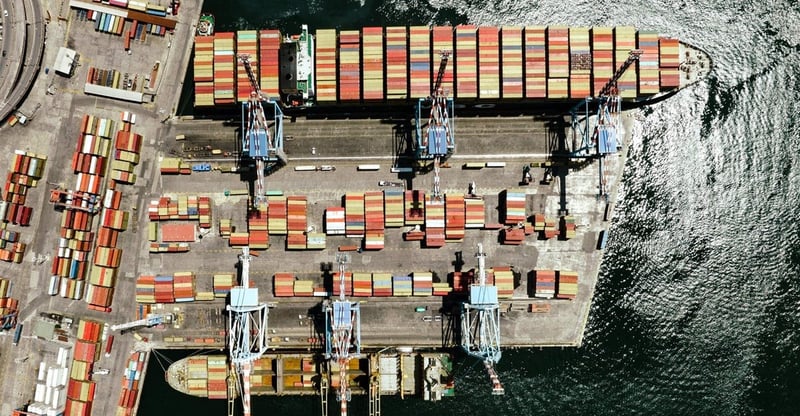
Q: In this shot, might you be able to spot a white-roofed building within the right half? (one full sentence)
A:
No, no white-roofed building appears within the right half.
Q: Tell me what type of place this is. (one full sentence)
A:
The area seen from above is a port.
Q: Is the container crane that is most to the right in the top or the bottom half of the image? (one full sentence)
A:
Seen from above, the container crane that is most to the right lies in the top half of the view.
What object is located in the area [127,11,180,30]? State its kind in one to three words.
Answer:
building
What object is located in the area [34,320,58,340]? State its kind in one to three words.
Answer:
shed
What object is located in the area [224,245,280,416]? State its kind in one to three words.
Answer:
container crane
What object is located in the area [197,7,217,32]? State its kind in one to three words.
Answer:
boat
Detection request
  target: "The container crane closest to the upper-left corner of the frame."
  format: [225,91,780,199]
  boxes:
[48,192,108,216]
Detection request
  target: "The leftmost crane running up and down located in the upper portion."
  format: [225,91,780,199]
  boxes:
[231,47,292,201]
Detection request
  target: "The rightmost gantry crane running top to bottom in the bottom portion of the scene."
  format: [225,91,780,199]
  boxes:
[455,242,504,403]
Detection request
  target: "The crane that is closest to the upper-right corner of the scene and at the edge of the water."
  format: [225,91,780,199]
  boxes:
[570,49,644,203]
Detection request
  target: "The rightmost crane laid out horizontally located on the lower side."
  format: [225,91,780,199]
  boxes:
[110,310,175,332]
